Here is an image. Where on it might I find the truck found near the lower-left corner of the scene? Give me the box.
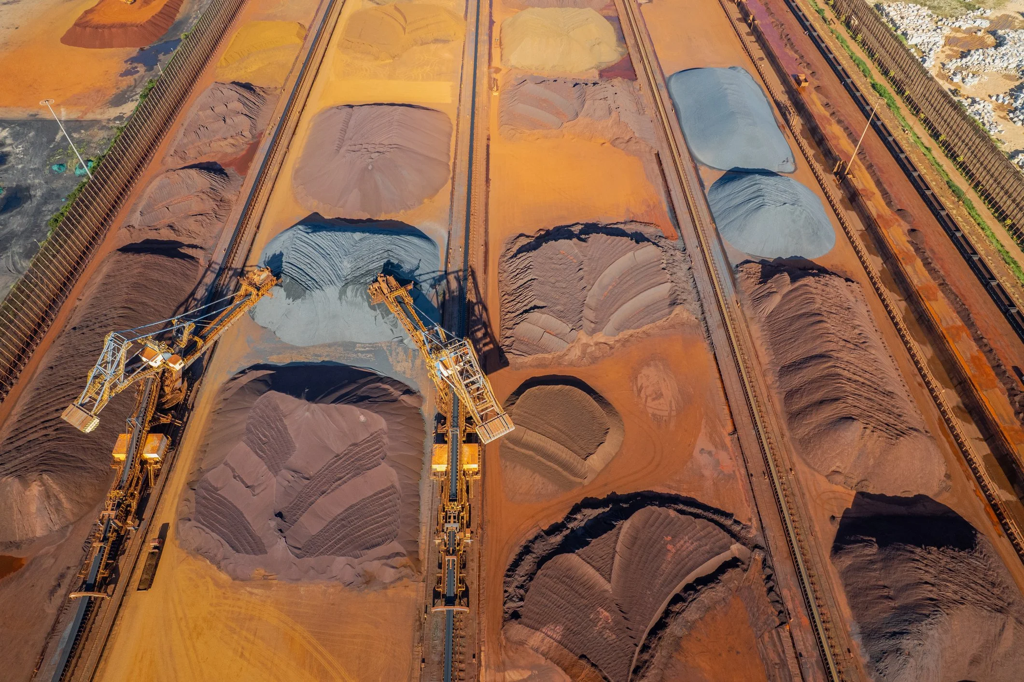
[134,539,169,602]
